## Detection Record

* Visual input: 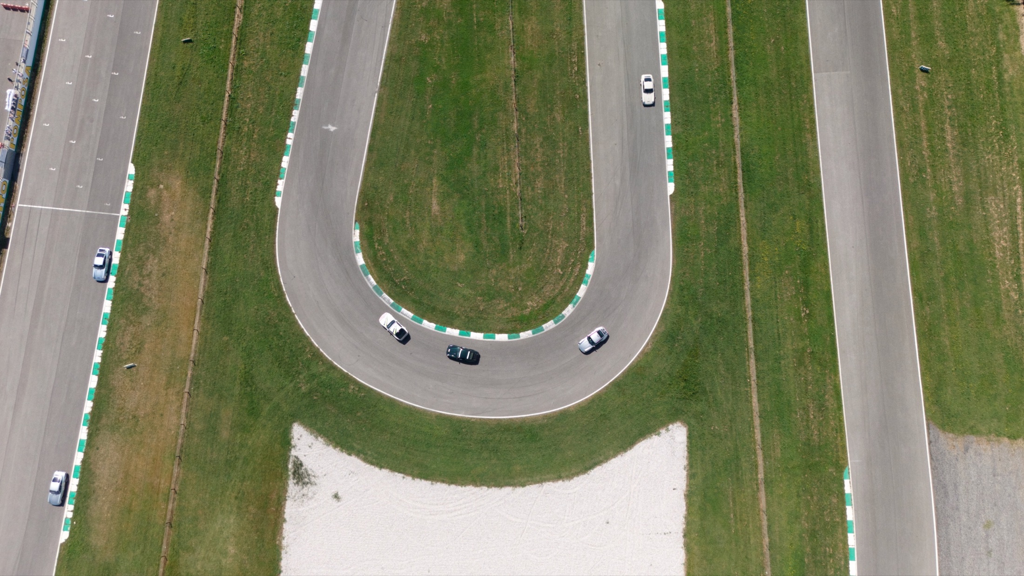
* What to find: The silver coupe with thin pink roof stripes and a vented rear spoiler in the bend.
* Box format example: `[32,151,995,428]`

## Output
[578,327,609,352]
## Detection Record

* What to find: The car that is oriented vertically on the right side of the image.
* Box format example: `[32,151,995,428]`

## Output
[640,75,655,105]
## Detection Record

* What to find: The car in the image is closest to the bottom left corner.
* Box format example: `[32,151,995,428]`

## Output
[48,470,69,506]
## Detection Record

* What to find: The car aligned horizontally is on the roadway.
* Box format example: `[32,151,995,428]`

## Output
[447,346,480,363]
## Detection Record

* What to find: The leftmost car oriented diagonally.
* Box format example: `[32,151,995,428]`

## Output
[380,312,408,342]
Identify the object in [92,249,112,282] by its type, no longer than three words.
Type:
car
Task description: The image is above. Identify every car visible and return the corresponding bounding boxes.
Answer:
[447,346,480,363]
[578,327,609,352]
[640,75,655,105]
[380,312,408,342]
[92,249,112,282]
[48,470,69,506]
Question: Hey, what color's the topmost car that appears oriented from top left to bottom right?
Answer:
white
